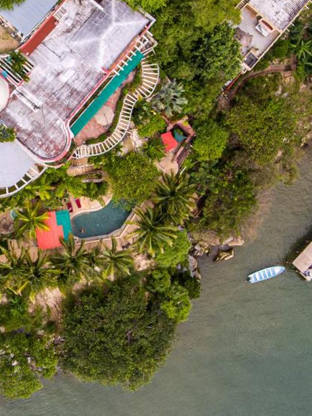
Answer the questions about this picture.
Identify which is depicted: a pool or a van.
pool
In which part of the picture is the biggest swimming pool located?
left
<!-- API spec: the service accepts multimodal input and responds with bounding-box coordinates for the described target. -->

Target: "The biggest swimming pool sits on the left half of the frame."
[8,192,143,262]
